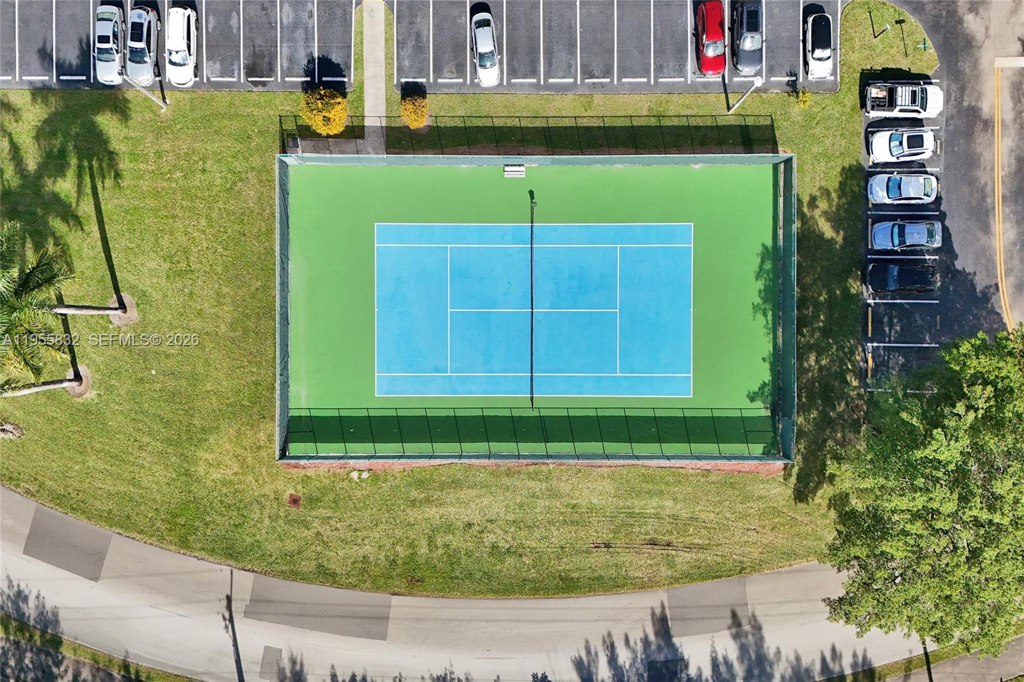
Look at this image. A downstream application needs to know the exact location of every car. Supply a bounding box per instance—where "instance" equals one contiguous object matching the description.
[867,126,938,164]
[124,5,161,87]
[865,170,938,206]
[163,5,200,89]
[695,0,729,79]
[91,6,128,87]
[471,12,503,89]
[802,11,837,81]
[869,218,943,252]
[732,0,767,77]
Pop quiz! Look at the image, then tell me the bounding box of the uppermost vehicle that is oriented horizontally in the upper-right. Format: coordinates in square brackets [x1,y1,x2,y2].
[862,80,944,120]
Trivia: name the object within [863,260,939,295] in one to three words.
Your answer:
truck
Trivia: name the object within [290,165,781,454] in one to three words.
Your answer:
tennis court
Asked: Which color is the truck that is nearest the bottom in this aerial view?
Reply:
black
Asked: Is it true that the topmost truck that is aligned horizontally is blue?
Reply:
No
